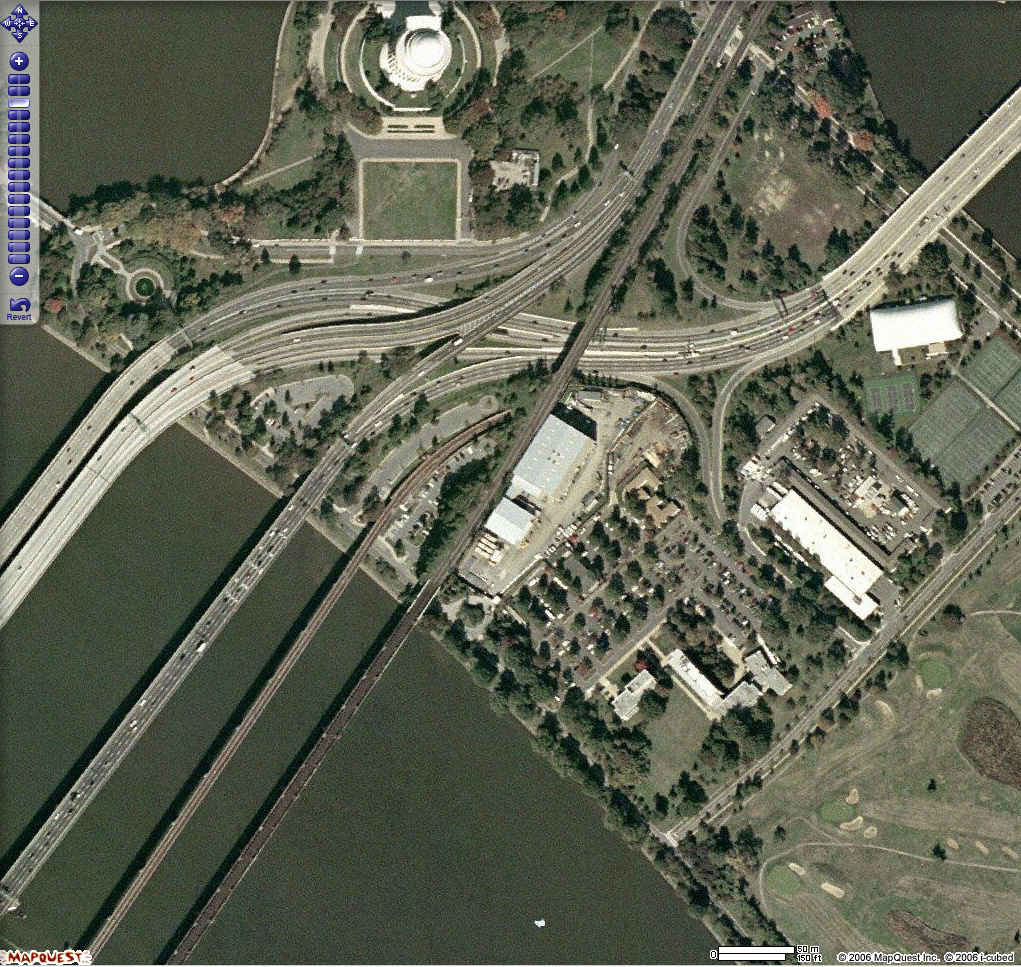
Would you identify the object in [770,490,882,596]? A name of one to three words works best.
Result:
building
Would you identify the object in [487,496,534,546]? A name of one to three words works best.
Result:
shed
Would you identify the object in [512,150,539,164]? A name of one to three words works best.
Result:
building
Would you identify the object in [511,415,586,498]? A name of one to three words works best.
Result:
shed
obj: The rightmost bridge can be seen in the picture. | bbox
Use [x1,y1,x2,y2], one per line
[822,88,1021,330]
